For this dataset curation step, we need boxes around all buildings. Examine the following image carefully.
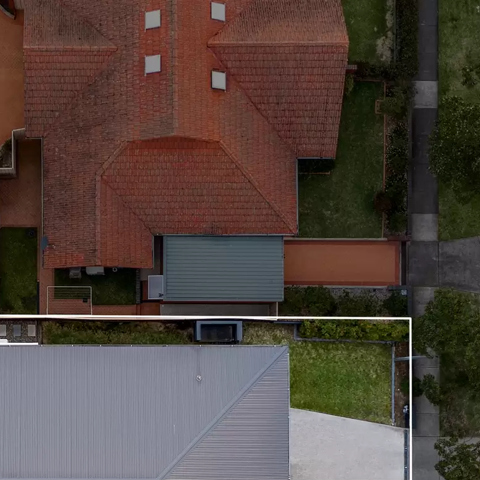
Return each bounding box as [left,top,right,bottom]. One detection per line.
[23,0,349,270]
[0,343,293,480]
